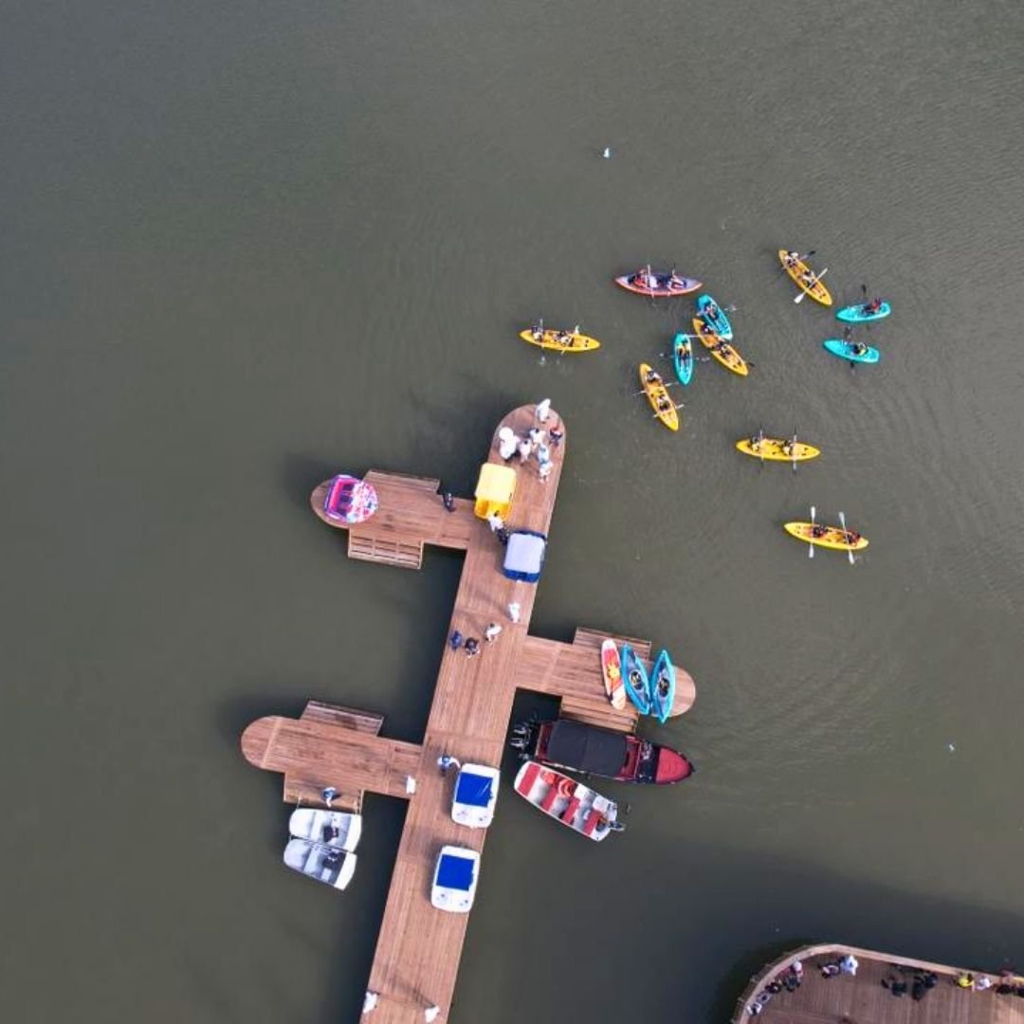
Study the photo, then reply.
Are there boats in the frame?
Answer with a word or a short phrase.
Yes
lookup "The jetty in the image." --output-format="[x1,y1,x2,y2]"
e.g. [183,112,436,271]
[241,406,695,1024]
